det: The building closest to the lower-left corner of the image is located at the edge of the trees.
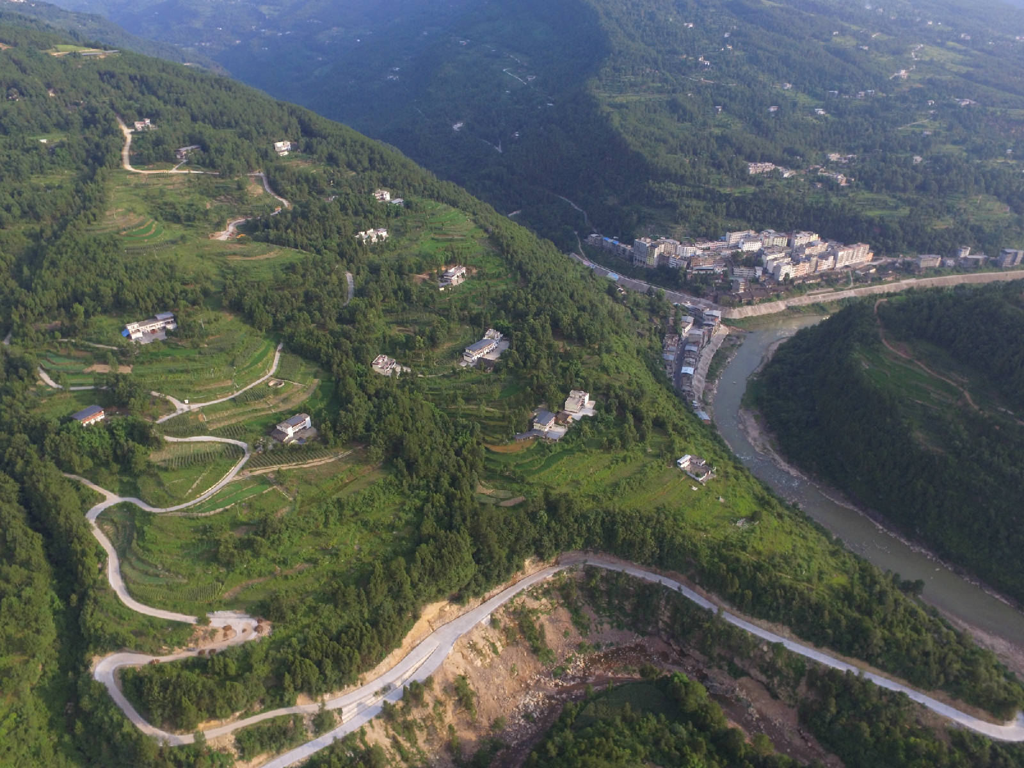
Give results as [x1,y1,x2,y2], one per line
[75,403,102,425]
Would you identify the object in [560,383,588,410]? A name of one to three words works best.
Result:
house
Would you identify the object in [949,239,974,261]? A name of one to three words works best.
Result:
building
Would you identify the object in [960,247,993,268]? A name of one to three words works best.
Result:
building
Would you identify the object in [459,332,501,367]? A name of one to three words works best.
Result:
house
